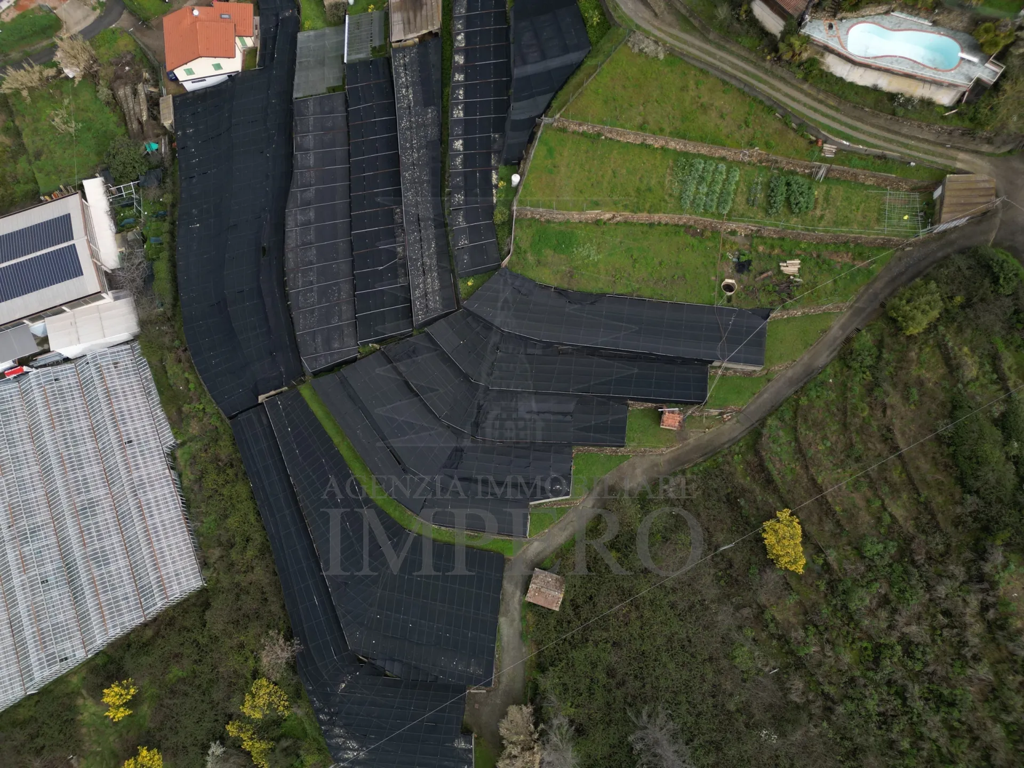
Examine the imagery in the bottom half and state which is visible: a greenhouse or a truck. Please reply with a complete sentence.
There is a greenhouse in the bottom half.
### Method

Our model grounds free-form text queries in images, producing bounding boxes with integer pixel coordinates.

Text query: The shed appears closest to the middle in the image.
[658,408,683,432]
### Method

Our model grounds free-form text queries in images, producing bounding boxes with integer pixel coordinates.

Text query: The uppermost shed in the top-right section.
[751,0,808,47]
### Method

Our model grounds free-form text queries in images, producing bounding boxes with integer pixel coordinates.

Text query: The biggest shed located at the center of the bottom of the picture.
[525,568,564,611]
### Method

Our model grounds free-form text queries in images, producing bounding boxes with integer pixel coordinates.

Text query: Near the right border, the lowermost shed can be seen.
[936,175,996,225]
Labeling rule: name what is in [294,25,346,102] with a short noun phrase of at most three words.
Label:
greenhouse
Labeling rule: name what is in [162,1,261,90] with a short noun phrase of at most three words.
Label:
house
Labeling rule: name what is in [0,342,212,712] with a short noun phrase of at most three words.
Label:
greenhouse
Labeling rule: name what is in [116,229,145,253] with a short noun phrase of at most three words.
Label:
shed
